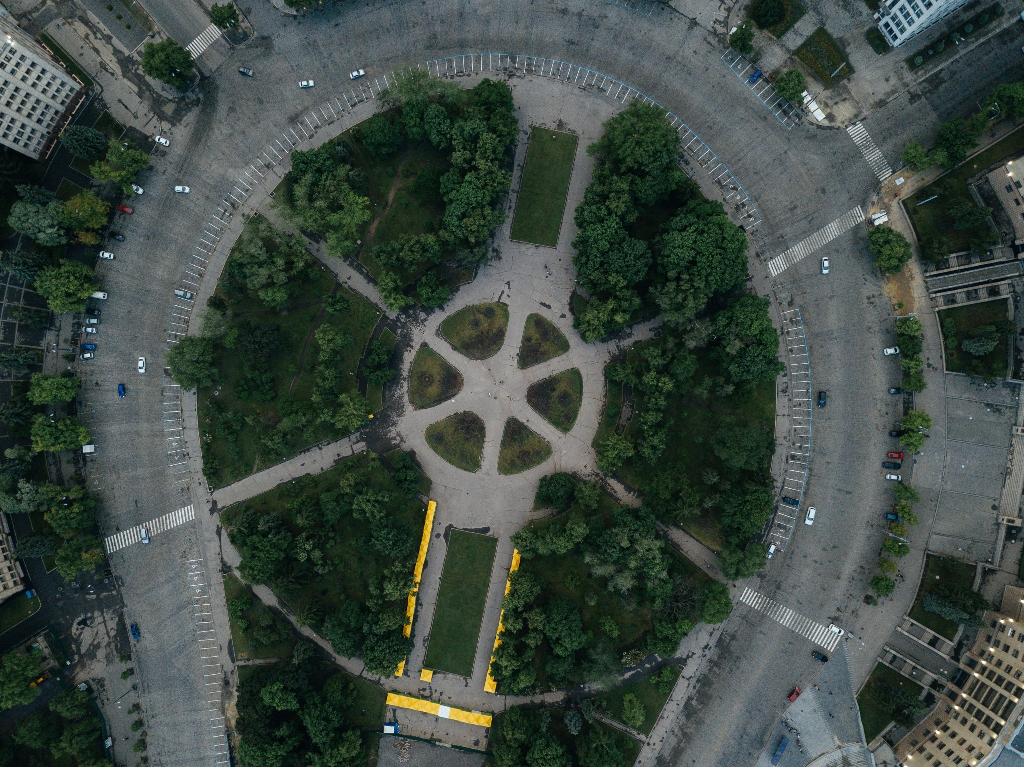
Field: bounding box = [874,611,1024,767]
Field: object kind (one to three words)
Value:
building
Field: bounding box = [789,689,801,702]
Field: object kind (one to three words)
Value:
vehicle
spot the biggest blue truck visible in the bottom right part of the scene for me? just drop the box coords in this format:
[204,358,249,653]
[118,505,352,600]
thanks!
[766,733,788,766]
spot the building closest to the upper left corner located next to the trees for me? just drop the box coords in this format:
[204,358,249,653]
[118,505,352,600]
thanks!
[0,26,91,165]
